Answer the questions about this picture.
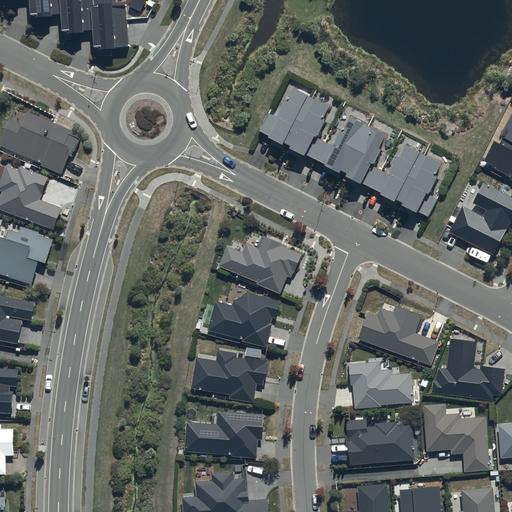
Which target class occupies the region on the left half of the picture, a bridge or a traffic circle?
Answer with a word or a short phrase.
traffic circle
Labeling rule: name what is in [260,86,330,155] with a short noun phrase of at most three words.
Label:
house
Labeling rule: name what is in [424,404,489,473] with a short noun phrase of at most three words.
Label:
house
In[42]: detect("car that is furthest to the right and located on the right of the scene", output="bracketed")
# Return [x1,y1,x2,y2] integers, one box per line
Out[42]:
[488,350,503,364]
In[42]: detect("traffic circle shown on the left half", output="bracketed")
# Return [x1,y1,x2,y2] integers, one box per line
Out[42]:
[102,75,190,163]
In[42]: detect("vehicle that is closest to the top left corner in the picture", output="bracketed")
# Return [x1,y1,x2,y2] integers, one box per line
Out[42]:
[66,162,82,175]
